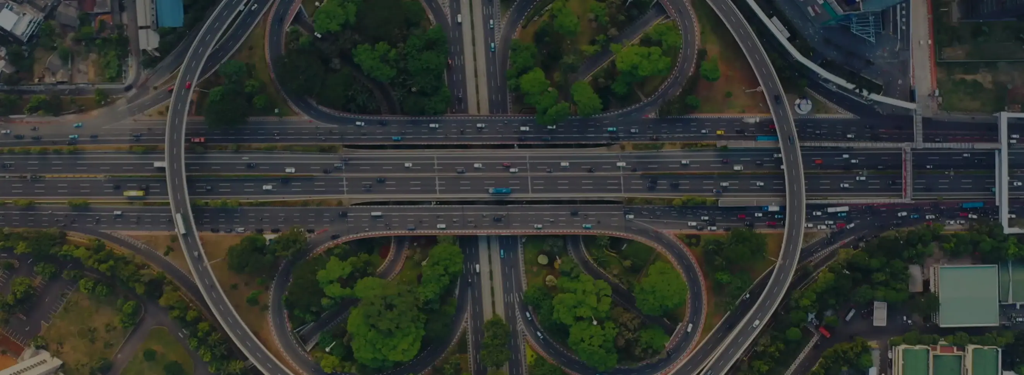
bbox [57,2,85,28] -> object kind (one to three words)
house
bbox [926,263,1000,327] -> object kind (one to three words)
building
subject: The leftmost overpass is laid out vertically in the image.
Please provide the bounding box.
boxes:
[163,0,294,375]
